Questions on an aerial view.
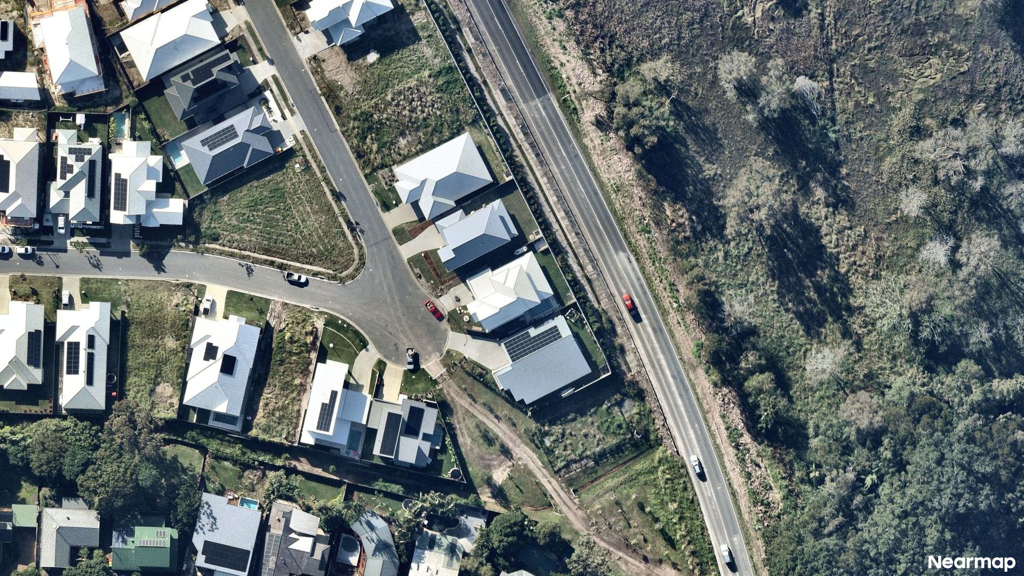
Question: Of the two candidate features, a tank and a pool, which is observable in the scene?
pool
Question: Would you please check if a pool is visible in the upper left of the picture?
Yes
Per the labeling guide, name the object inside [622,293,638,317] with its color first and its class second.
red vehicle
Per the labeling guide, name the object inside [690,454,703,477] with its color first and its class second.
white vehicle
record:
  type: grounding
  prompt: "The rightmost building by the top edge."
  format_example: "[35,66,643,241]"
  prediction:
[306,0,394,45]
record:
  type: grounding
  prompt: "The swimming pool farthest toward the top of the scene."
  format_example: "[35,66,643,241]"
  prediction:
[109,112,127,140]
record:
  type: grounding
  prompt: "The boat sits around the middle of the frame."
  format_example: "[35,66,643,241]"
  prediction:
[510,245,530,258]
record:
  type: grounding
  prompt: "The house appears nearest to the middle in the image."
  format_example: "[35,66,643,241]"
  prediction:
[467,251,554,333]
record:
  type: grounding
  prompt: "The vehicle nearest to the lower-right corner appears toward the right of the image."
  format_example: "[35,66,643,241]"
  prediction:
[720,543,733,567]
